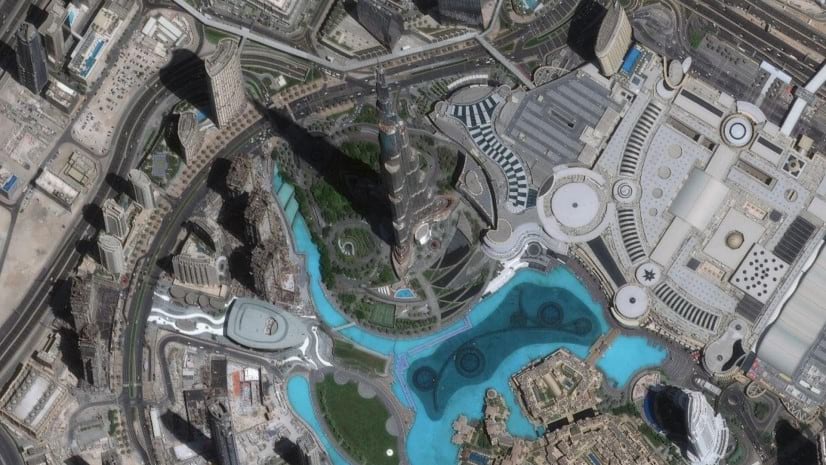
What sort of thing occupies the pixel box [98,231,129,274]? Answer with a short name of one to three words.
building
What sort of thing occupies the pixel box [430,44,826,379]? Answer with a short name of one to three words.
building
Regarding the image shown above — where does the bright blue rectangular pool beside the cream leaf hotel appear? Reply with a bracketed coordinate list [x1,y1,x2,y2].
[621,46,640,72]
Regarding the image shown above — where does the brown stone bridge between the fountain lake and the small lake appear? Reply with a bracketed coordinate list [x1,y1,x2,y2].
[582,322,622,367]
